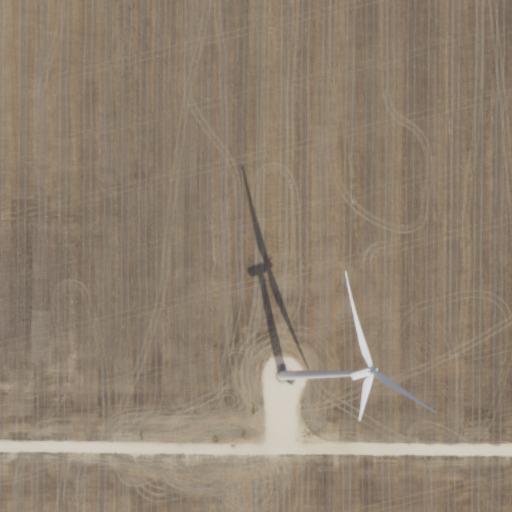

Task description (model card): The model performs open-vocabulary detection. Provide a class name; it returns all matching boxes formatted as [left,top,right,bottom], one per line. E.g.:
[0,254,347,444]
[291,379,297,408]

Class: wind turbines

[277,270,434,420]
